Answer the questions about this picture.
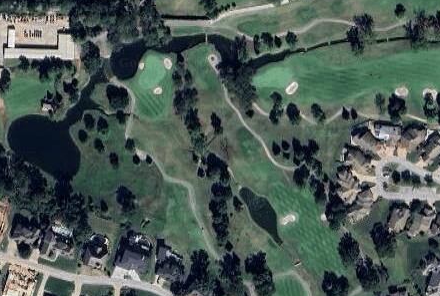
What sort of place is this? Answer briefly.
golf course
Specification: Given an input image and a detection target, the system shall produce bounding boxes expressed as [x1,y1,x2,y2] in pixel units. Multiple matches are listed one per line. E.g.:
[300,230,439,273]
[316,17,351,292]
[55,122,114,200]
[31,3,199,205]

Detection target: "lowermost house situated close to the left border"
[6,264,37,296]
